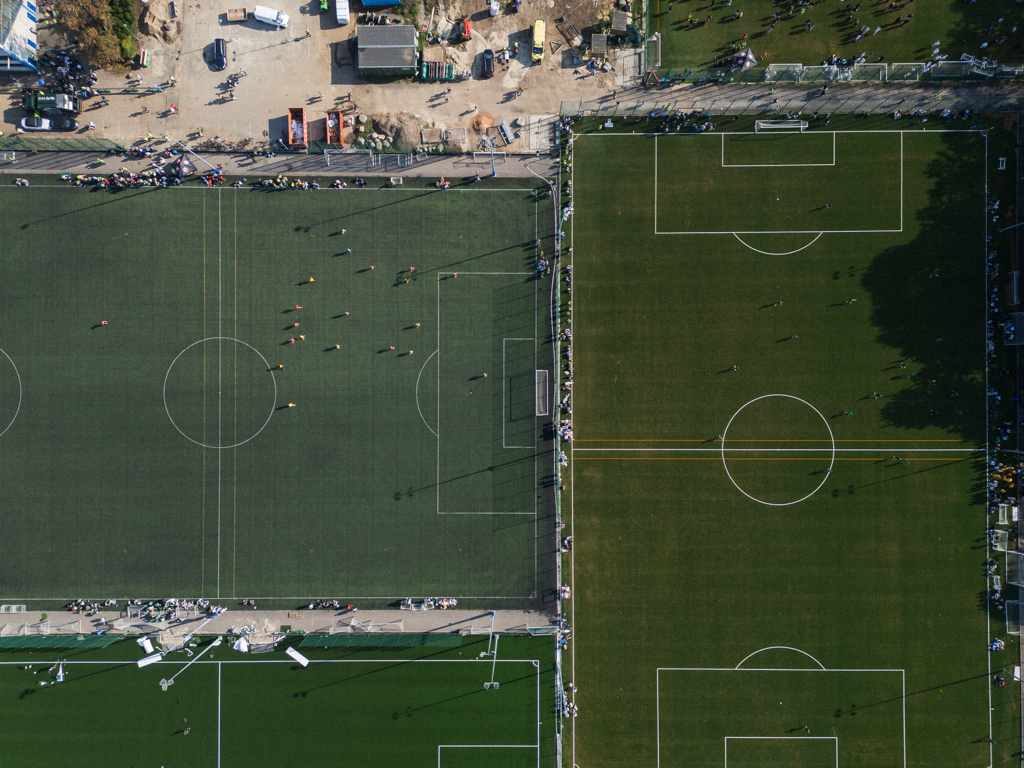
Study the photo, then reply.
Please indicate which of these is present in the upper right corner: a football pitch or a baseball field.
football pitch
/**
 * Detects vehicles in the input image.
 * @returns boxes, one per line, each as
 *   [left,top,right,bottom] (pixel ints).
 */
[214,39,229,71]
[337,0,353,24]
[482,49,496,78]
[252,4,293,29]
[530,19,546,63]
[22,91,82,115]
[319,0,332,16]
[19,117,48,132]
[459,5,474,40]
[48,118,77,132]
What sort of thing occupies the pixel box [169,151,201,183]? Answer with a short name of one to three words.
gazebo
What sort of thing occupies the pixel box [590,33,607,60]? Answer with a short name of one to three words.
shed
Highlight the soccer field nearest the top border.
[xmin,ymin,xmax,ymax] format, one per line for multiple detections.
[646,0,1024,83]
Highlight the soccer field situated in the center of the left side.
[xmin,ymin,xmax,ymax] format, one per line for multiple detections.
[0,174,556,610]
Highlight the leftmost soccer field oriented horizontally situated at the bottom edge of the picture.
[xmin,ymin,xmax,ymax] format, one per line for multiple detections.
[0,635,556,768]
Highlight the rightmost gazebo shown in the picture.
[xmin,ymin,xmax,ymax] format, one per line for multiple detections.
[730,47,758,78]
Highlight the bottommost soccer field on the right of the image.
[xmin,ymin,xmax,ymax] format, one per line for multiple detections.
[539,112,1021,768]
